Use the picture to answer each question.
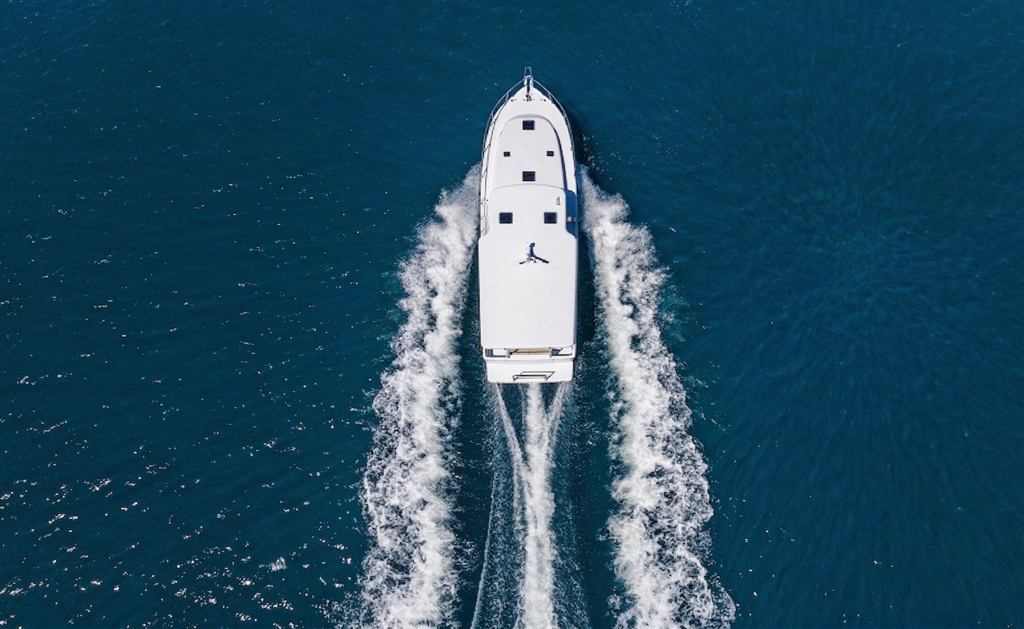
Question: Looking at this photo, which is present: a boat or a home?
boat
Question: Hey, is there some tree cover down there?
No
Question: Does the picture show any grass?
No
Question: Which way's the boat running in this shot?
from top to bottom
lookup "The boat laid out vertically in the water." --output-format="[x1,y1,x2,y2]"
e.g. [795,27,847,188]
[479,66,579,384]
